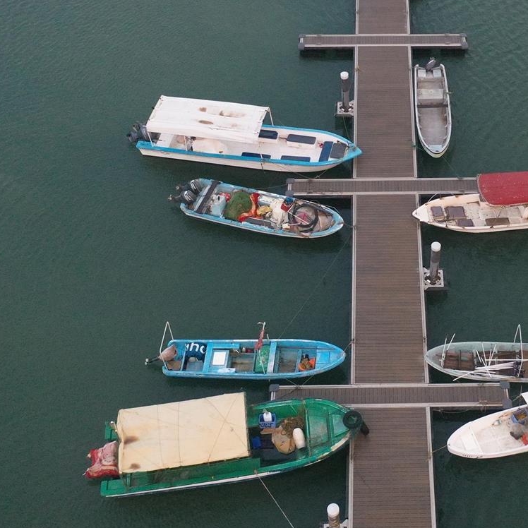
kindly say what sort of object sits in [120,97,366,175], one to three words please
boat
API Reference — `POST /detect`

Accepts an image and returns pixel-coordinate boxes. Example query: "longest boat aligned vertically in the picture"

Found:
[414,57,453,158]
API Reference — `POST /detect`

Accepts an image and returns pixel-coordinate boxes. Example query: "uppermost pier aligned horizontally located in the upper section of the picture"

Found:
[298,33,468,55]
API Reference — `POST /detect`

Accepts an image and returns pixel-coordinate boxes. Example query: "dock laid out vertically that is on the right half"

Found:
[320,0,448,528]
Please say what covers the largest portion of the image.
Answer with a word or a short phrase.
water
